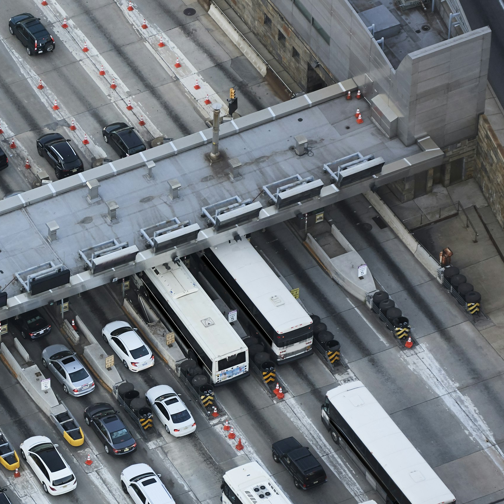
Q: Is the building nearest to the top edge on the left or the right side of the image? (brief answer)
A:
right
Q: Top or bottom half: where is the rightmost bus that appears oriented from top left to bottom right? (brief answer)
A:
bottom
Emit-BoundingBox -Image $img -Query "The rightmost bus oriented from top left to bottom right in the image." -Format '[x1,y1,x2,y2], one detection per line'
[322,385,454,504]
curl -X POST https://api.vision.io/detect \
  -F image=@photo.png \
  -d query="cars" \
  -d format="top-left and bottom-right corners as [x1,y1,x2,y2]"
[20,435,78,500]
[103,321,156,376]
[276,438,328,495]
[10,12,56,60]
[84,402,138,461]
[103,123,147,159]
[144,382,198,439]
[11,308,53,345]
[43,345,97,402]
[120,465,177,504]
[36,133,86,179]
